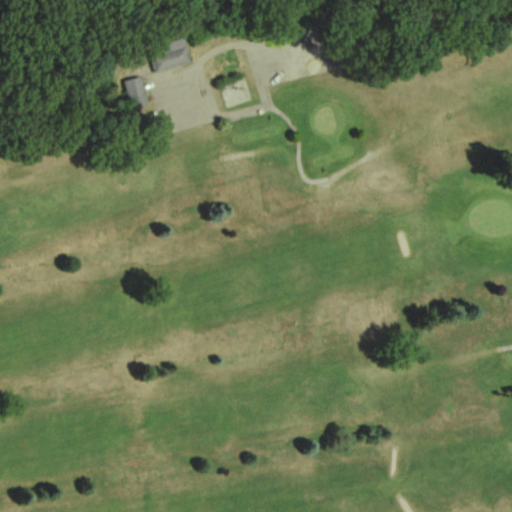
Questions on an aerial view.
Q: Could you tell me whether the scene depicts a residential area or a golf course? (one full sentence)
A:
This looks like a golf course.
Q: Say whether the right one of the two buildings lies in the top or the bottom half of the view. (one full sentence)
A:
It is in the top half that the right one of the two buildings appears.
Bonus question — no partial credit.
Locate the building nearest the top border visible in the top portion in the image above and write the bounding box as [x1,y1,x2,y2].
[152,38,192,72]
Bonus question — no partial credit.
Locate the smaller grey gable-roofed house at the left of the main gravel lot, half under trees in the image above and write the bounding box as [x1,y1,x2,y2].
[126,78,148,108]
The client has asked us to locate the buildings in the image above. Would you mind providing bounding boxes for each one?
[152,38,192,72]
[126,78,148,108]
